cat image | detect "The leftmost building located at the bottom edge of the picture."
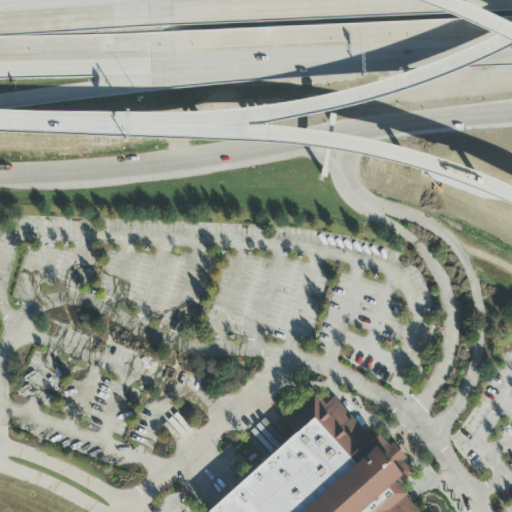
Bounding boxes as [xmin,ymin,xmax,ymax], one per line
[207,392,424,512]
